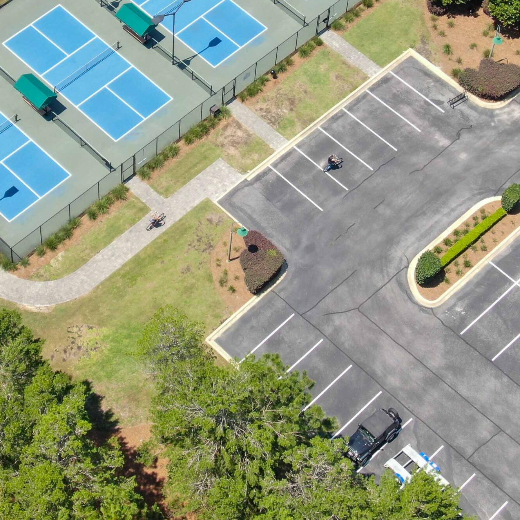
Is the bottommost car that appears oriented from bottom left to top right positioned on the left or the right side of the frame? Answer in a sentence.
It is on the right.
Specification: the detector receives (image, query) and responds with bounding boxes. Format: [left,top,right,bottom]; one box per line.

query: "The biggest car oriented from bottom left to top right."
[344,405,398,461]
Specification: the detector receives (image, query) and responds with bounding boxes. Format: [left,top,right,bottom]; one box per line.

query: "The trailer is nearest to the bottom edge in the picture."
[383,444,461,515]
